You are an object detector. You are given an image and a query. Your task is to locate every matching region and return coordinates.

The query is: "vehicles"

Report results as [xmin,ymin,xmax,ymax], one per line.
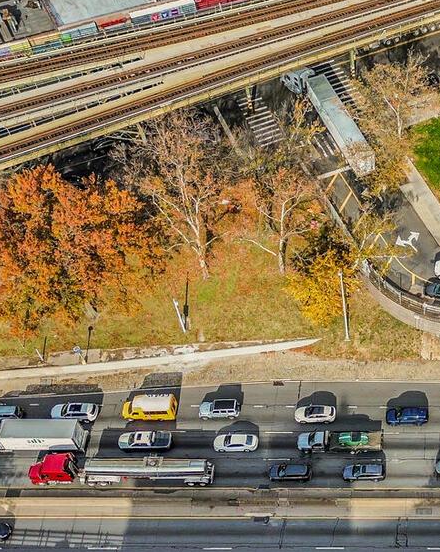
[121,394,180,421]
[338,426,373,446]
[0,522,15,542]
[214,432,259,452]
[0,416,90,453]
[387,404,428,425]
[51,400,99,421]
[0,403,24,421]
[341,461,385,482]
[198,397,241,418]
[268,461,313,482]
[28,454,217,487]
[295,426,384,455]
[296,403,336,423]
[423,280,440,298]
[281,73,375,178]
[117,428,174,451]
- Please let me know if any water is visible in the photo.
No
